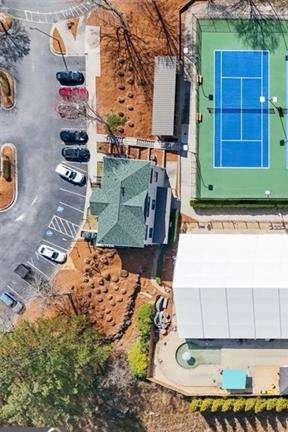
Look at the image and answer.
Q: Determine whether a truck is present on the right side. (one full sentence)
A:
No, looking on the right side, there is no truck.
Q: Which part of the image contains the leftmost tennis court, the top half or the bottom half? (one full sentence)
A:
You can find the leftmost tennis court in the top half.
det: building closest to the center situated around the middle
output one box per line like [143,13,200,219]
[91,156,174,247]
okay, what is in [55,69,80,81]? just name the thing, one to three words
vehicle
